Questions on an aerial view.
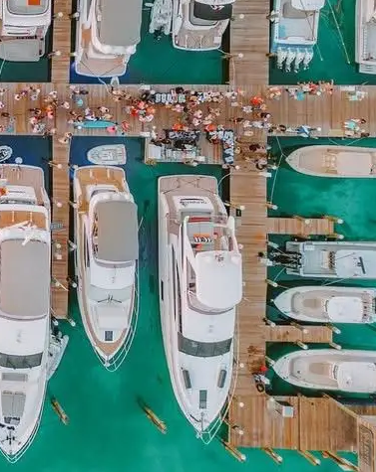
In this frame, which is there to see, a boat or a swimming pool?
boat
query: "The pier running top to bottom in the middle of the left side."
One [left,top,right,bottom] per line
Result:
[50,134,70,319]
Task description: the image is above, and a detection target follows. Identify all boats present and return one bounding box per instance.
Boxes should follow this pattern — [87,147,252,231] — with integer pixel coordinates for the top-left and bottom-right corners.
[0,165,70,457]
[272,0,349,63]
[0,0,53,61]
[75,0,143,77]
[45,323,70,373]
[148,0,172,39]
[171,0,234,50]
[88,145,127,166]
[276,241,376,280]
[348,0,376,74]
[285,146,376,177]
[273,347,376,393]
[272,283,376,323]
[154,172,241,443]
[0,145,14,160]
[74,167,142,371]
